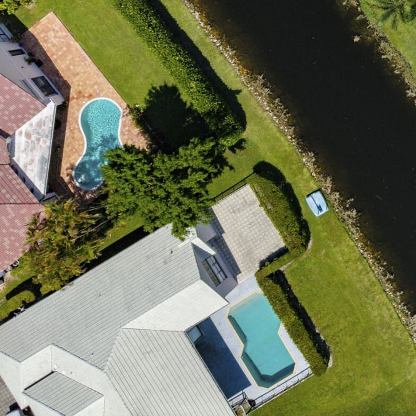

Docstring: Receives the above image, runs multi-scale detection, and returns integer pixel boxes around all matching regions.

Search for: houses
[0,219,237,416]
[0,20,69,271]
